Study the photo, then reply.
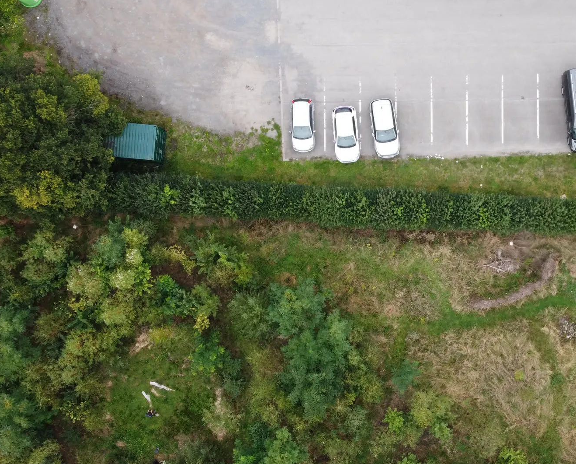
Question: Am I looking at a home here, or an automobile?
automobile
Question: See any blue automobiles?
No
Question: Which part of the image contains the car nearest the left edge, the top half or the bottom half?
top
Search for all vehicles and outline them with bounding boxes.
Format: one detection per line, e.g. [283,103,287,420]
[369,100,400,159]
[287,98,317,153]
[562,67,576,156]
[330,107,362,165]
